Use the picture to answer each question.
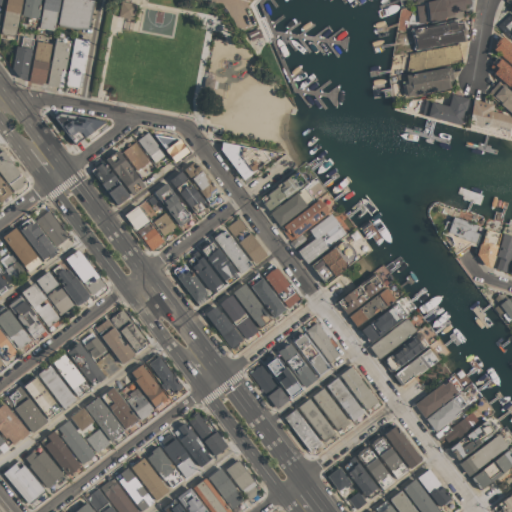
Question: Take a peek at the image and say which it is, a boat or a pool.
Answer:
boat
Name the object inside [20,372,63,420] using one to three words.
house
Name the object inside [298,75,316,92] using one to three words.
boat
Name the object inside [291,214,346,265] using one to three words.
building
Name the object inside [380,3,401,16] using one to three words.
boat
